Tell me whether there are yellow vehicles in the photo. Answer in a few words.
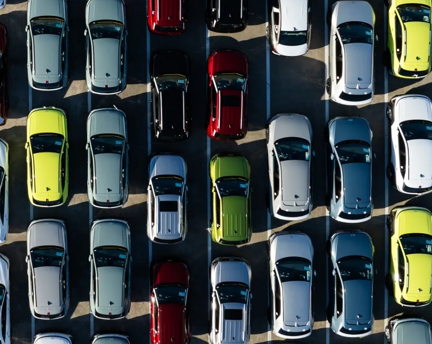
Yes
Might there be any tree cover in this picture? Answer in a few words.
No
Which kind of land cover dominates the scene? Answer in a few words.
paved ground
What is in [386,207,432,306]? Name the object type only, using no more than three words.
car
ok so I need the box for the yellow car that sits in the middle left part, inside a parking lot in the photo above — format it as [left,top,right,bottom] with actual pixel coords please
[26,108,70,206]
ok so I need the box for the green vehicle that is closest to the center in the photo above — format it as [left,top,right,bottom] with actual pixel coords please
[209,153,255,244]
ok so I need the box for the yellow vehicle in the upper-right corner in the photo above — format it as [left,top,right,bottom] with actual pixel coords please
[384,0,432,78]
